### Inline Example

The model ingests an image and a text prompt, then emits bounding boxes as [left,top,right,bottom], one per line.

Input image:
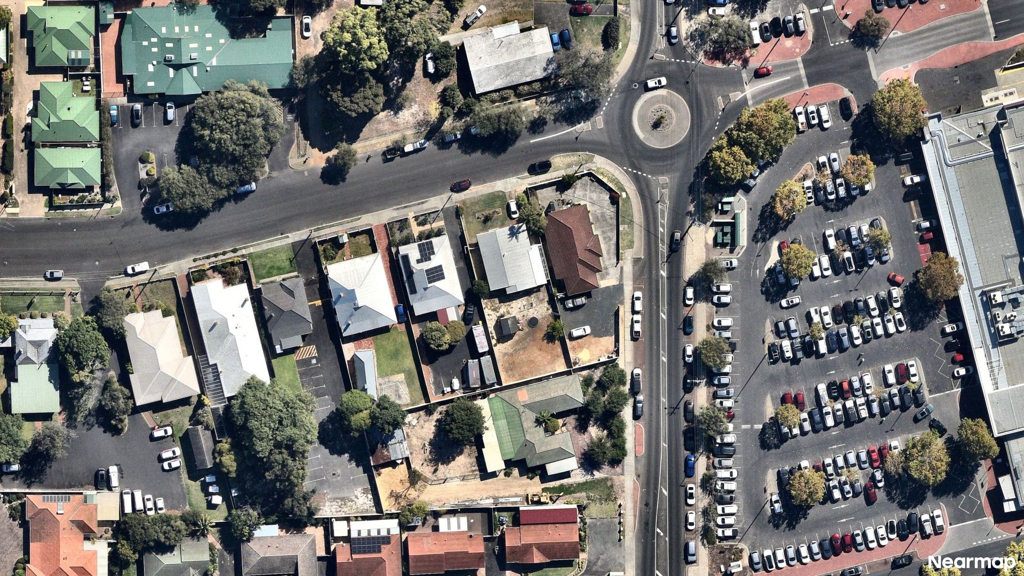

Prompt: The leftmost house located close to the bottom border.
[26,492,119,576]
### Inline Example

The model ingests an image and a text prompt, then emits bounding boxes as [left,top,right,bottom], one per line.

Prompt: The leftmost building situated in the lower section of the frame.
[0,318,59,414]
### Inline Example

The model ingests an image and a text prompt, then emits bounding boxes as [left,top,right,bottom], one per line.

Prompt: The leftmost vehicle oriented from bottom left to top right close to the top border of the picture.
[466,6,485,25]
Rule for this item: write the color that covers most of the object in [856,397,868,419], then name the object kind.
white vehicle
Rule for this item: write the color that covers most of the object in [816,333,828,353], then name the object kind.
white vehicle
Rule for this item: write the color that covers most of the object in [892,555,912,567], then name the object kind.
black vehicle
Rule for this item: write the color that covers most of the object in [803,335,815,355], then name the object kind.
black vehicle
